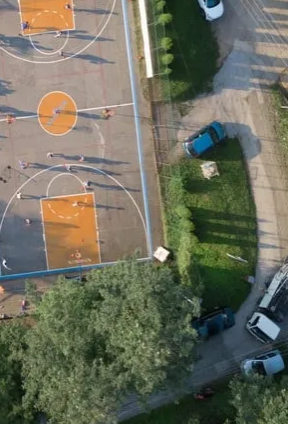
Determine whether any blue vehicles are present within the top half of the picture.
Yes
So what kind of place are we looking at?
sports ground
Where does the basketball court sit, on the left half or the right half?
left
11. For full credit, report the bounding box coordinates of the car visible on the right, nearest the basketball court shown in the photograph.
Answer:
[181,121,233,157]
